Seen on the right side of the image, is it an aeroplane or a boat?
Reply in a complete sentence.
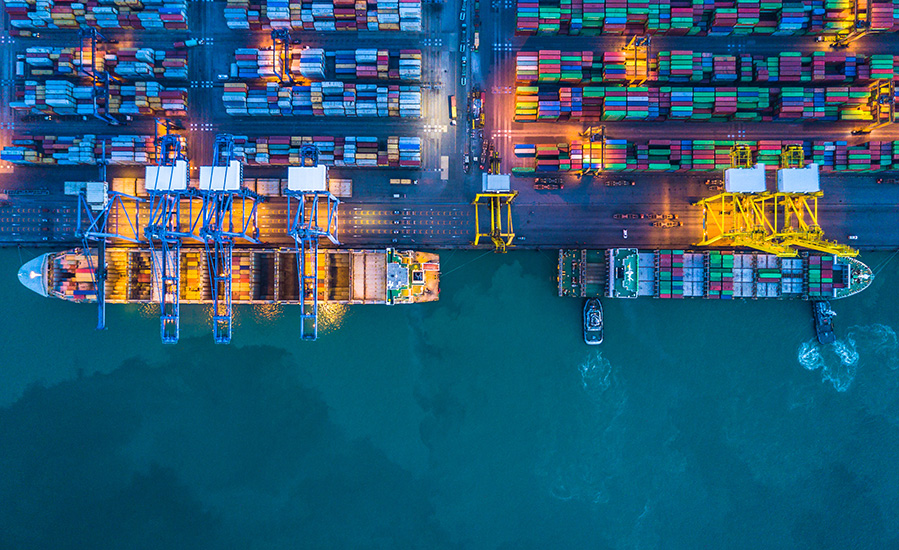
Looking on the right side of the image, you will find a boat.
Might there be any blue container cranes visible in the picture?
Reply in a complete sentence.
Yes, the image includes a blue container crane.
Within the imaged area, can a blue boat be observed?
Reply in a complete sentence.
Yes, the frame does contain a blue boat.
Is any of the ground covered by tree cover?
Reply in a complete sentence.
No, tree cover can't be seen anywhere here.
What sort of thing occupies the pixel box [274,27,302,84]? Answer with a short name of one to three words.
crane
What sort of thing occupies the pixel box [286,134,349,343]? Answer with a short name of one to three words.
container crane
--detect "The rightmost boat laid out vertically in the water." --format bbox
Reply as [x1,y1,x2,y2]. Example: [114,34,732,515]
[810,298,834,345]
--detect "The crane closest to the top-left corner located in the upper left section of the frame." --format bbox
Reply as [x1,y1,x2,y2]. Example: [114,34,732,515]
[79,25,118,82]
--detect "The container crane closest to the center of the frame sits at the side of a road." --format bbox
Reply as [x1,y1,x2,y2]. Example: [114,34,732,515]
[465,159,523,254]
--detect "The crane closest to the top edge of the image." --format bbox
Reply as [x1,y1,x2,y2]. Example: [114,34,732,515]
[829,0,870,45]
